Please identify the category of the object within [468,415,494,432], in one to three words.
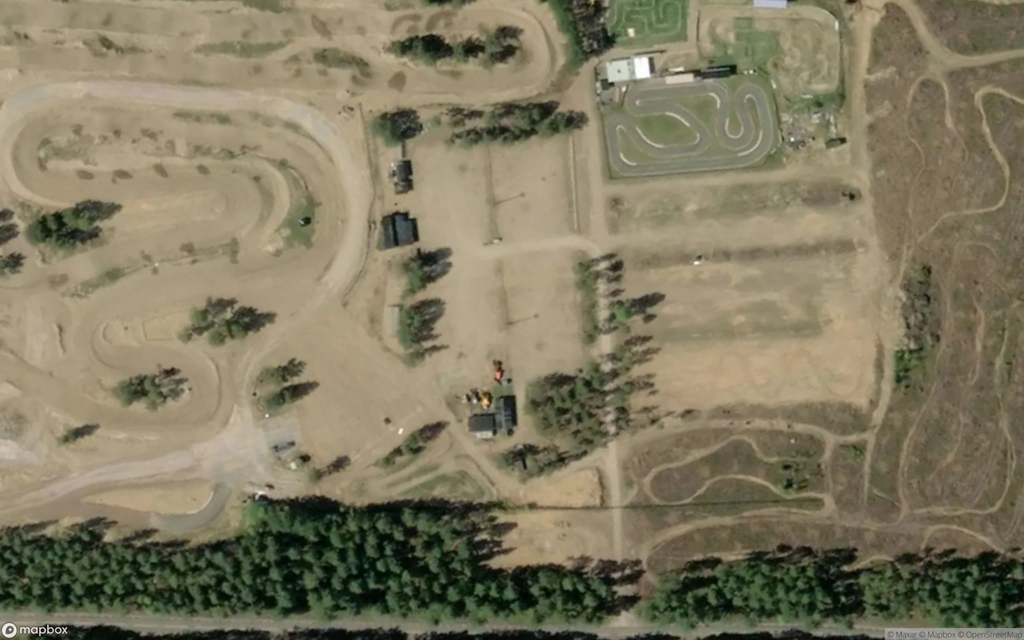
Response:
building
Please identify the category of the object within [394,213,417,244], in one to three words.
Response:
shed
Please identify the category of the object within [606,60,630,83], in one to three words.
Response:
building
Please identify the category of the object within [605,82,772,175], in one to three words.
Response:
race track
